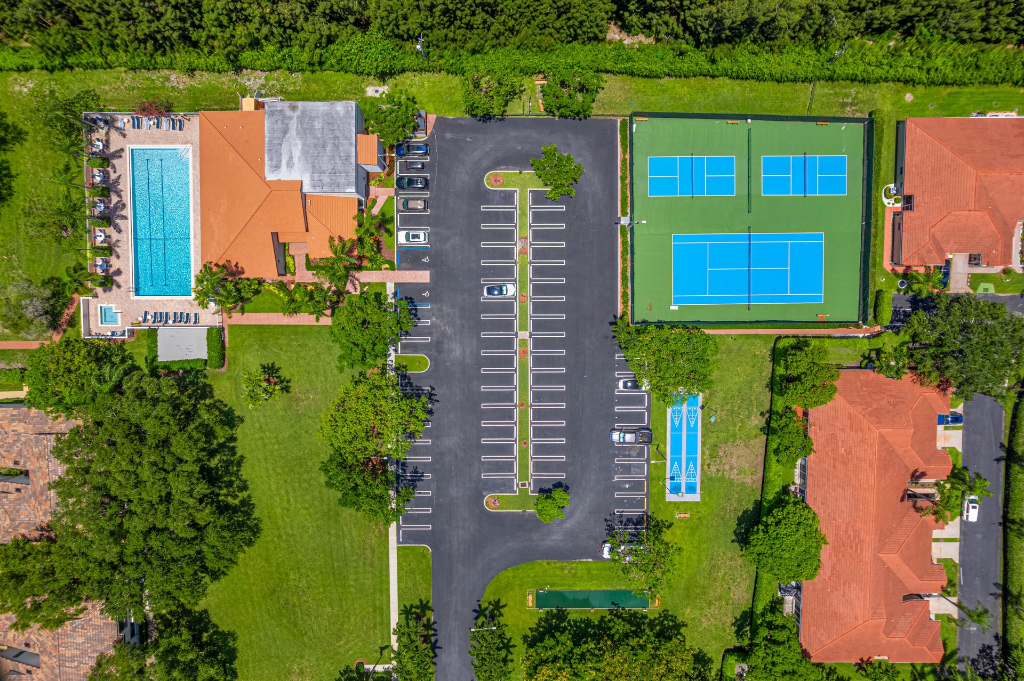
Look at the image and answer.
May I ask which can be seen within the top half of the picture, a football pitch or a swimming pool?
swimming pool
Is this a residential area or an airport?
residential area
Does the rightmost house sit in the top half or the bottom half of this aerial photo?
top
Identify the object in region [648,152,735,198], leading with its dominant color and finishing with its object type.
blue sports court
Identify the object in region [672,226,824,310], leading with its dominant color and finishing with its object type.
blue tennis court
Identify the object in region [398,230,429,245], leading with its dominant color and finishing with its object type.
white car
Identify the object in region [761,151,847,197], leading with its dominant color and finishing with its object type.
blue sports court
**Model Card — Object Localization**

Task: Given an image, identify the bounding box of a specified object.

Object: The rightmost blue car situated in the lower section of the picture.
[937,412,967,426]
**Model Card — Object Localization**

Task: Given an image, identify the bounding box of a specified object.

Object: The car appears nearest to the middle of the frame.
[484,283,515,298]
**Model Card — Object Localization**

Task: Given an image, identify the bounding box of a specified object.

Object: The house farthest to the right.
[886,116,1024,267]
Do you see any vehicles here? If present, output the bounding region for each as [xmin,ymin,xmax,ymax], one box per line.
[611,429,652,445]
[398,230,429,245]
[958,493,978,525]
[398,197,427,212]
[618,377,648,392]
[406,160,425,172]
[938,260,954,289]
[397,175,429,190]
[397,142,429,158]
[484,283,515,298]
[601,543,640,560]
[937,412,967,426]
